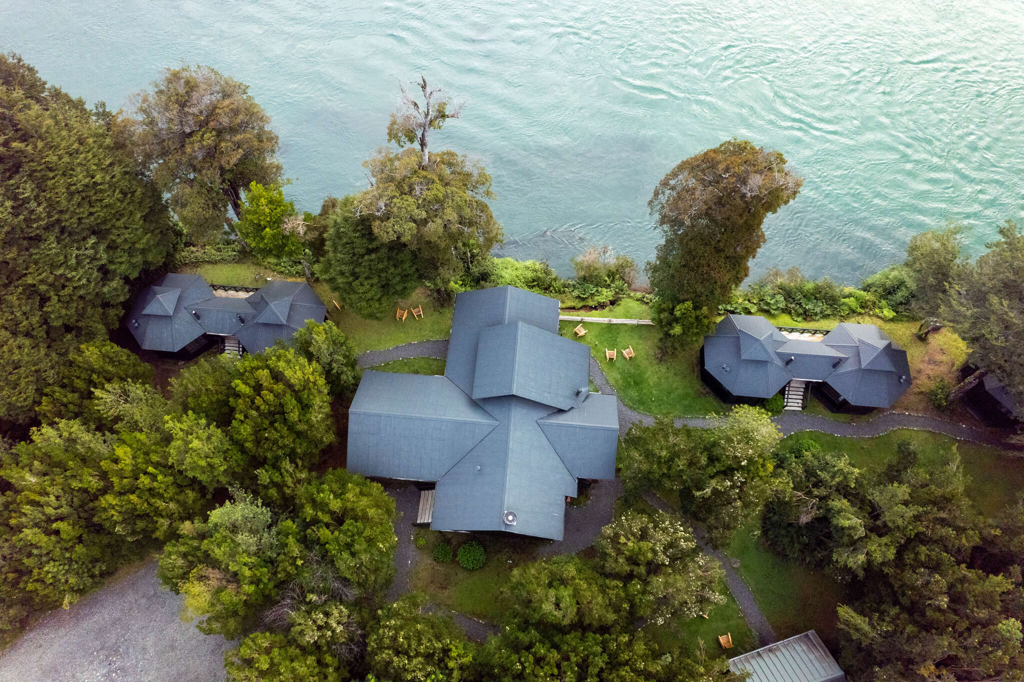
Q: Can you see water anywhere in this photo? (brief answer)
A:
Yes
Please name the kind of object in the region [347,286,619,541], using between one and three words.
house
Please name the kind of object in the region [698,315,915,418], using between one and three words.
building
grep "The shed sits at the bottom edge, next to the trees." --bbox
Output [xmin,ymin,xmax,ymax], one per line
[724,628,849,682]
